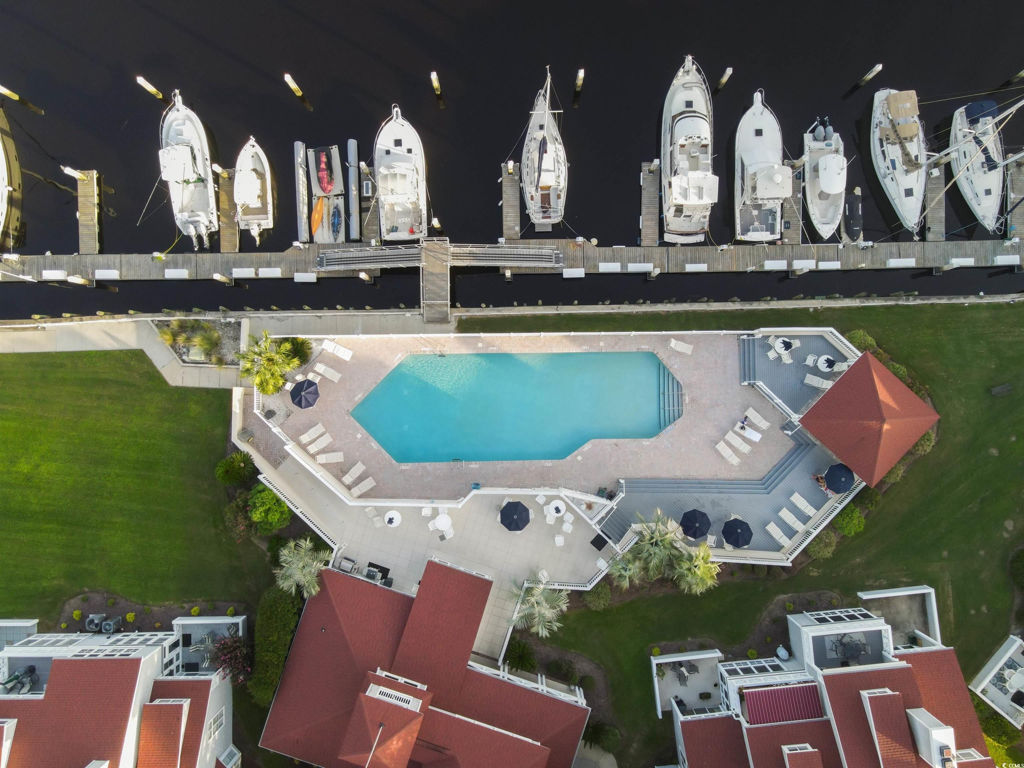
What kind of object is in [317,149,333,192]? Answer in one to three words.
boat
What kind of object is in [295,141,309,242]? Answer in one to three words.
pier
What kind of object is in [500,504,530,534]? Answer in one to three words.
umbrella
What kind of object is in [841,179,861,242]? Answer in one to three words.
boat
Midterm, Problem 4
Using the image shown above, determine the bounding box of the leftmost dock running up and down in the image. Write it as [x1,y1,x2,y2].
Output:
[76,171,101,254]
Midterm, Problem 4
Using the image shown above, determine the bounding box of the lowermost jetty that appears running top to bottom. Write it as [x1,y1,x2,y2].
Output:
[422,238,452,323]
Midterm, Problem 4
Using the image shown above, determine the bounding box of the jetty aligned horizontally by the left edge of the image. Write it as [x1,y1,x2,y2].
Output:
[0,243,381,283]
